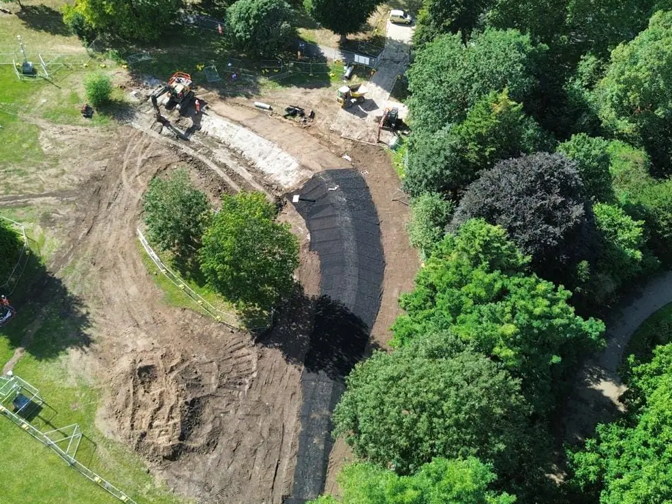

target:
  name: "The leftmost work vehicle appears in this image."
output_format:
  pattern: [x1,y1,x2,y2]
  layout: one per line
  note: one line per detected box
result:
[144,75,198,124]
